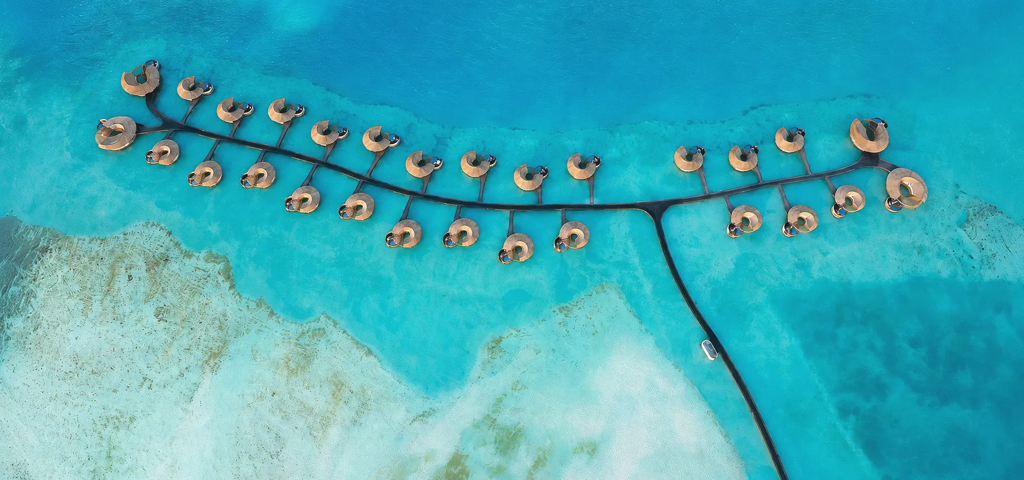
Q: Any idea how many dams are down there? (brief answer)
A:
0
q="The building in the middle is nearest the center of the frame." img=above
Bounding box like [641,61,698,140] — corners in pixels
[497,234,534,264]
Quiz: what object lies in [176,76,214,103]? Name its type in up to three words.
house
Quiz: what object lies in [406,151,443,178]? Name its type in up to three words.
house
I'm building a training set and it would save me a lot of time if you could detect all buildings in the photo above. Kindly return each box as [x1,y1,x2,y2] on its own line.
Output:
[884,170,929,212]
[144,141,181,167]
[268,99,305,125]
[283,186,321,214]
[93,116,138,151]
[240,163,277,190]
[673,146,704,173]
[848,118,890,152]
[567,153,601,181]
[217,98,255,125]
[186,162,224,189]
[119,58,161,94]
[406,151,443,178]
[461,150,497,179]
[384,220,423,248]
[311,120,348,148]
[338,194,376,221]
[176,76,214,103]
[443,219,480,247]
[830,187,866,218]
[728,206,762,238]
[775,127,804,155]
[514,164,548,192]
[728,144,758,174]
[362,126,399,153]
[497,234,534,264]
[782,206,818,237]
[554,221,590,252]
